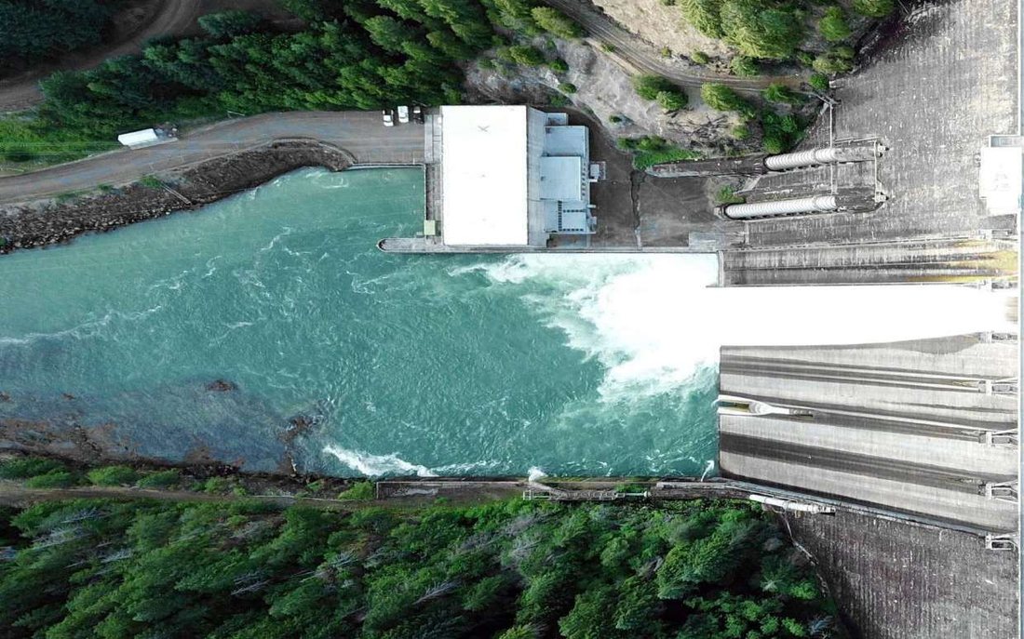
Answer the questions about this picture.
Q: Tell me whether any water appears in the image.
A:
Yes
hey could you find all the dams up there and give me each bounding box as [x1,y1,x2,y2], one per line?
[704,0,1024,639]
